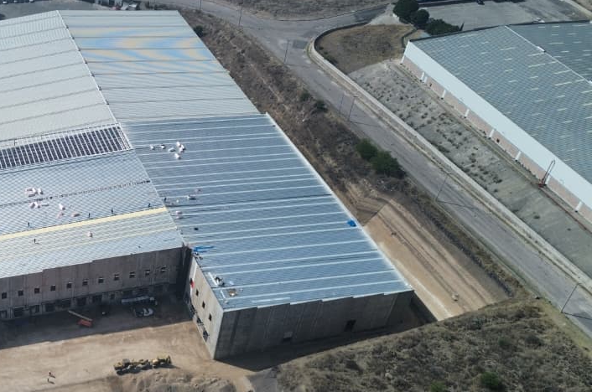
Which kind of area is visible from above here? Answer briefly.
industrial area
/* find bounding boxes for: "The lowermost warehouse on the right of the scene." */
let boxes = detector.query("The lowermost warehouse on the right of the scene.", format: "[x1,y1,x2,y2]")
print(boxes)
[398,20,592,225]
